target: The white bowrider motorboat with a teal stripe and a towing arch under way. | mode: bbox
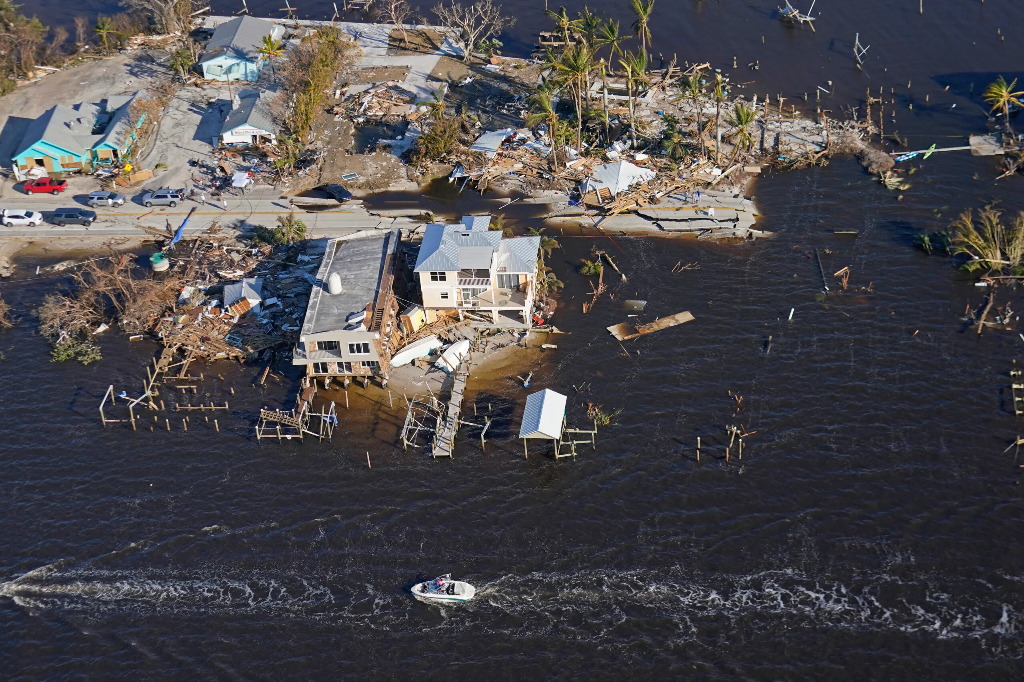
[411,575,479,603]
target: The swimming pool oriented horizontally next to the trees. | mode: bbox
[589,82,656,104]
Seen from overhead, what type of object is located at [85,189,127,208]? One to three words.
car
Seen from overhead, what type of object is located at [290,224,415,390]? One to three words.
house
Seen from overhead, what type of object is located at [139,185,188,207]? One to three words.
car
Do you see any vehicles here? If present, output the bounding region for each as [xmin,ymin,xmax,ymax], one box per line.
[139,185,188,207]
[21,174,69,194]
[0,208,43,227]
[85,189,127,208]
[320,178,354,201]
[51,206,99,227]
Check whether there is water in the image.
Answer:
Yes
